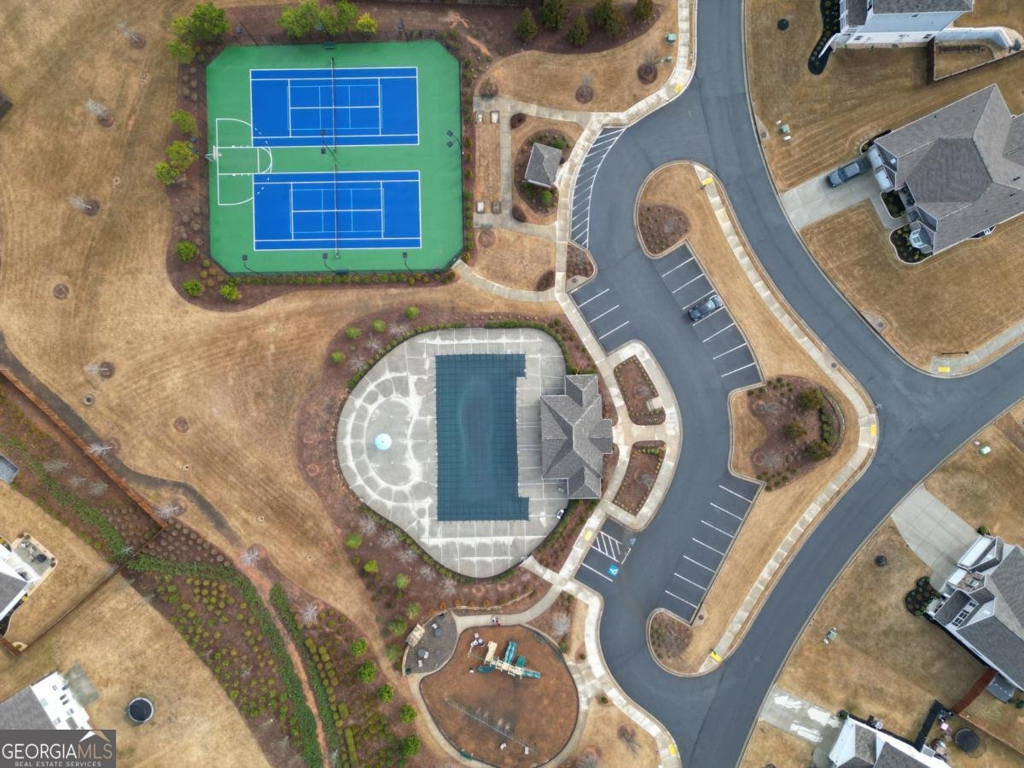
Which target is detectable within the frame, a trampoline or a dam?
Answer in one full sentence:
It is a trampoline that can be seen here.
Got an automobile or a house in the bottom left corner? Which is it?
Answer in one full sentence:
The one visible in the bottom left corner is a house.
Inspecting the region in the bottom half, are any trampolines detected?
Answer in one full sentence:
Yes, a trampoline shows up in the bottom half.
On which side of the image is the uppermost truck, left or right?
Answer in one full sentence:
It is on the right.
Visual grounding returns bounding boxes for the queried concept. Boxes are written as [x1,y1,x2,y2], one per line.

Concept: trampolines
[128,697,155,723]
[952,726,979,752]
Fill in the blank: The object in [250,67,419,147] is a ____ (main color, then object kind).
blue tennis court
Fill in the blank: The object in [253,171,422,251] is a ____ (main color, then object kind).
blue tennis court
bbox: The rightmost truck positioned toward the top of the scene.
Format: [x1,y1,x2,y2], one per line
[822,157,871,191]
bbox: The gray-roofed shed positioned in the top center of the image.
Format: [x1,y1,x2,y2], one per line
[524,142,562,189]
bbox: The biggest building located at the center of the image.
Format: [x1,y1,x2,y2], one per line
[540,375,614,498]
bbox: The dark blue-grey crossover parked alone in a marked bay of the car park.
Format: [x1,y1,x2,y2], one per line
[687,295,722,323]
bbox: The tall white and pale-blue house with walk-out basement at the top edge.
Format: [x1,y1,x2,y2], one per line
[818,0,974,63]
